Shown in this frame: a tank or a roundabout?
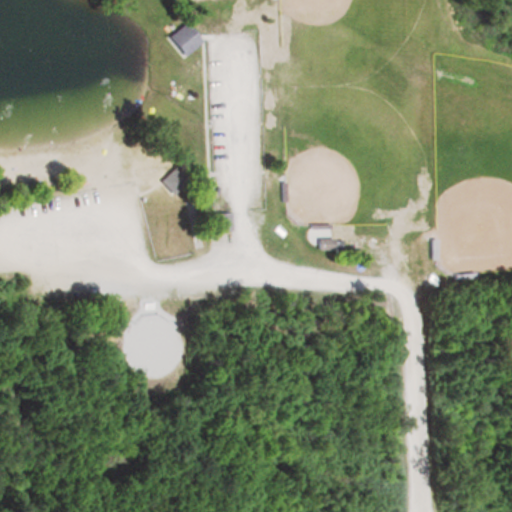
tank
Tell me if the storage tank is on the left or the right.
left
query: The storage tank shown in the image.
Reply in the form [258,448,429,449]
[124,317,184,377]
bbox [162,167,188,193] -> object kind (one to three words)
building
